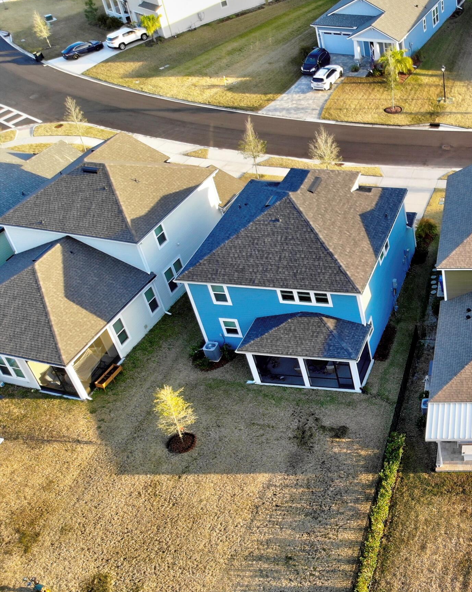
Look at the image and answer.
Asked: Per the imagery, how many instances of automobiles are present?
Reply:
4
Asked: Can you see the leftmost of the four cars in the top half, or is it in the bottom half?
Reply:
top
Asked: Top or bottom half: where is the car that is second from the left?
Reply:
top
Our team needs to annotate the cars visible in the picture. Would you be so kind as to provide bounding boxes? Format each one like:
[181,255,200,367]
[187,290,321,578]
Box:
[101,26,147,50]
[302,43,326,69]
[56,39,101,59]
[310,66,341,89]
